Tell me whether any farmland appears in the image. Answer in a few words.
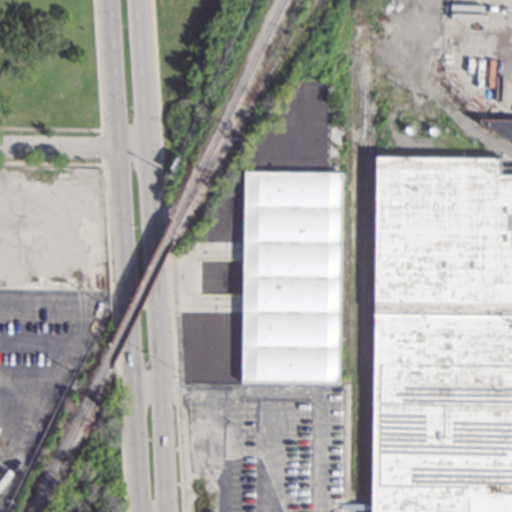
No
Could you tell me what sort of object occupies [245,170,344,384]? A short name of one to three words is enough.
building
